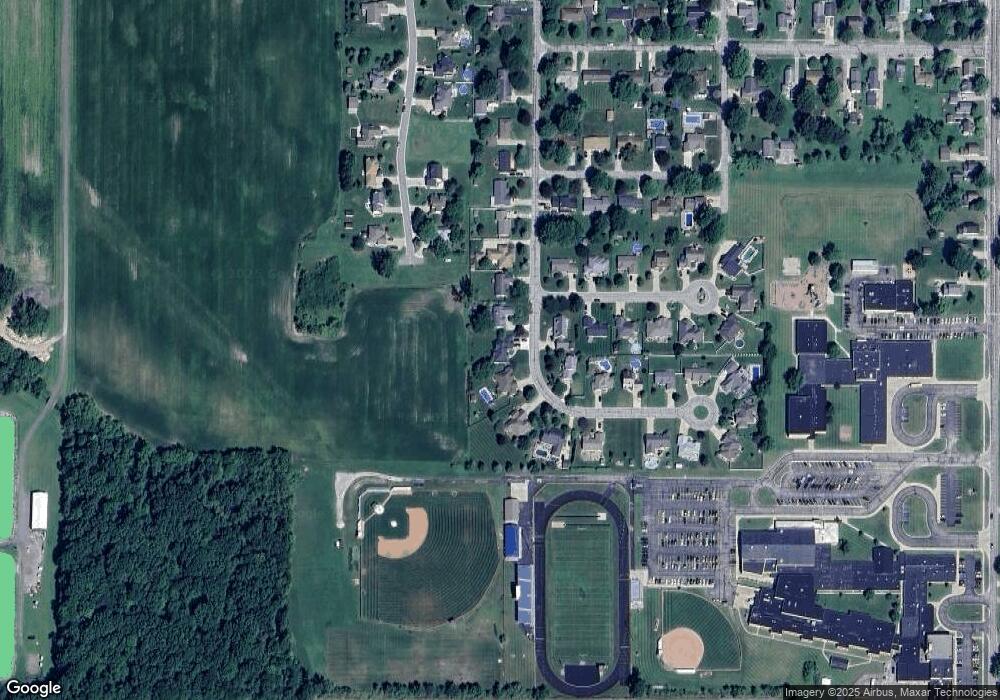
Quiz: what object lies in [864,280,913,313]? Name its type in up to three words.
building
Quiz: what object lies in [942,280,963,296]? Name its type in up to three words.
house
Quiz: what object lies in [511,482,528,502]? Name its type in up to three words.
building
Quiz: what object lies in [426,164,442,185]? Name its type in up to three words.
house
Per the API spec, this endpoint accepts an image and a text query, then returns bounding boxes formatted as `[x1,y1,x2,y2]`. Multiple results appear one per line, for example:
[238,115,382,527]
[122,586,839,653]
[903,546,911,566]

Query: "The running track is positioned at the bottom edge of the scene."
[535,483,629,696]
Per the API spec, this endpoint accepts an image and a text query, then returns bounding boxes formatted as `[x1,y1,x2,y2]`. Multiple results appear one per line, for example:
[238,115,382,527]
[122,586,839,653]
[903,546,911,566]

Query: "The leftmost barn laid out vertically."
[32,491,47,530]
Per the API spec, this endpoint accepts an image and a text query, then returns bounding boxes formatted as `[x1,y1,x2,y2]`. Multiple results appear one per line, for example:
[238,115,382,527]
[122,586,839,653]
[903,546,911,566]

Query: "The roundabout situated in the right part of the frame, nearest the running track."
[683,394,720,431]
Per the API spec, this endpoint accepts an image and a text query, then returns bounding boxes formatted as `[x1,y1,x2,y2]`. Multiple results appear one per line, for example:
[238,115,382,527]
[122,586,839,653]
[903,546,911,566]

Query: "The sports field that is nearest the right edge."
[779,190,922,252]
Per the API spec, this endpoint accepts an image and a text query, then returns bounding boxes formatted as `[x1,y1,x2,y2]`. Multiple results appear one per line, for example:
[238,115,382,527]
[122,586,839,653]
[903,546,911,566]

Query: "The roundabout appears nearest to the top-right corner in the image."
[684,279,719,314]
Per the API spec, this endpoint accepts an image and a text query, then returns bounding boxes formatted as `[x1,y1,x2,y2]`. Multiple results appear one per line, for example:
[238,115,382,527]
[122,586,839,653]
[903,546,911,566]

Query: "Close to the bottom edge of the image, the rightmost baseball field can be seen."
[663,590,741,670]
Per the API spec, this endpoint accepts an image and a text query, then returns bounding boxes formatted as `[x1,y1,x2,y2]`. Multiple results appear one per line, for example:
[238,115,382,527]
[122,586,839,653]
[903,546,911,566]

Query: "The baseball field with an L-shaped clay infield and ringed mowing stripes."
[360,491,498,630]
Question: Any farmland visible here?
Yes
